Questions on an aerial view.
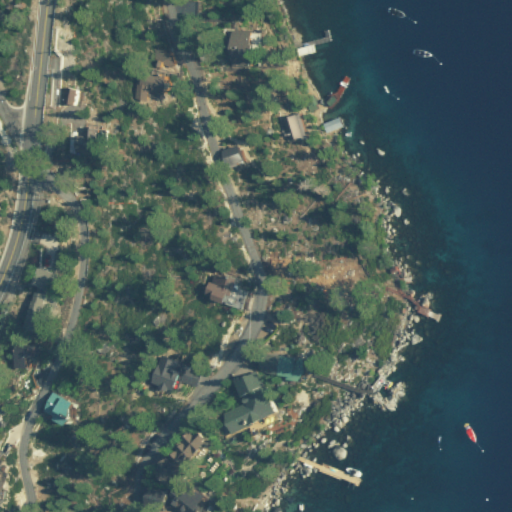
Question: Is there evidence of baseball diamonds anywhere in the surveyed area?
No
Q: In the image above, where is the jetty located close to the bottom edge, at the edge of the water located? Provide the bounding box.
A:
[298,456,362,488]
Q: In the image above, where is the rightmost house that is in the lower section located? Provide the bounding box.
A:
[276,355,302,381]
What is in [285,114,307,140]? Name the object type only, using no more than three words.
house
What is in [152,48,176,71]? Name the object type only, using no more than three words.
house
